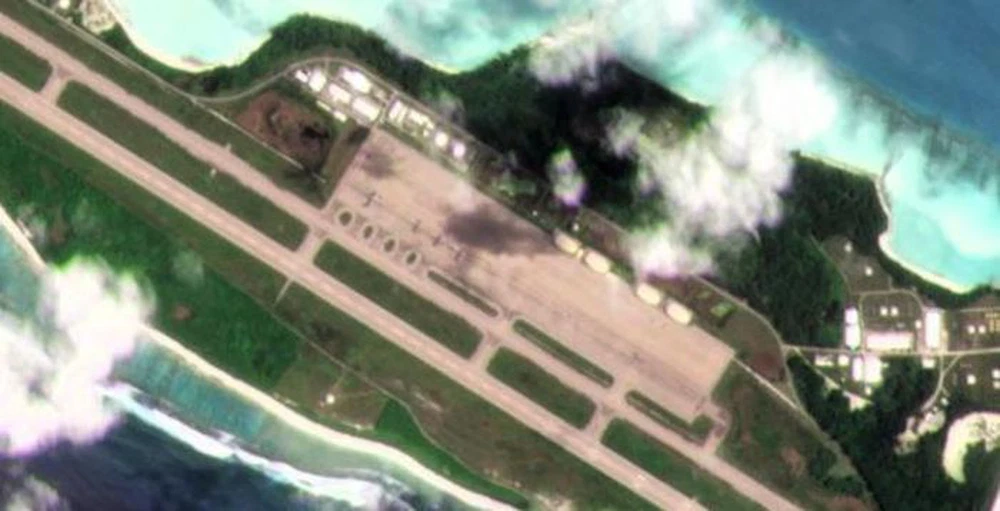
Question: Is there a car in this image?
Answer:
No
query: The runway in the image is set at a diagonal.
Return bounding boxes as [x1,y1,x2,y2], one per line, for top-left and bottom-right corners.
[0,72,707,511]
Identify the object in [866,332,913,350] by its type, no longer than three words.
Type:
building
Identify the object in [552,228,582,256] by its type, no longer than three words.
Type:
hangar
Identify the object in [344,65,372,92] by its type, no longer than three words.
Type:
building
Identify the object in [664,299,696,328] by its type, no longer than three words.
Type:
hangar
